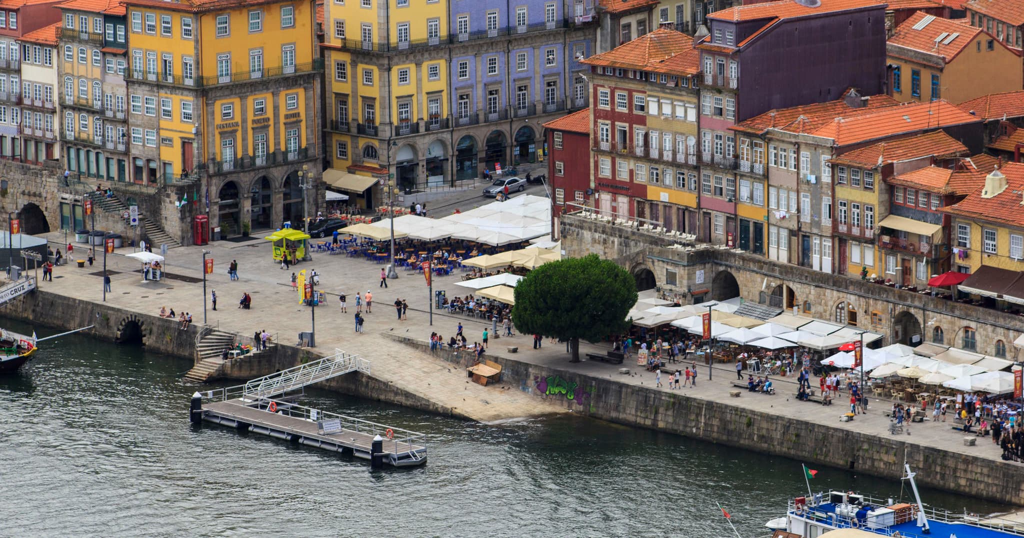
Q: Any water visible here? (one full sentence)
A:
Yes, some water is visible.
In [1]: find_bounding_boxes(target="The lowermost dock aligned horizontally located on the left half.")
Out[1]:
[202,388,429,466]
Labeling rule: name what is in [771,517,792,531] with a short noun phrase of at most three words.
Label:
boat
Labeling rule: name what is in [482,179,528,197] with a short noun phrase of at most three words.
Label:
car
